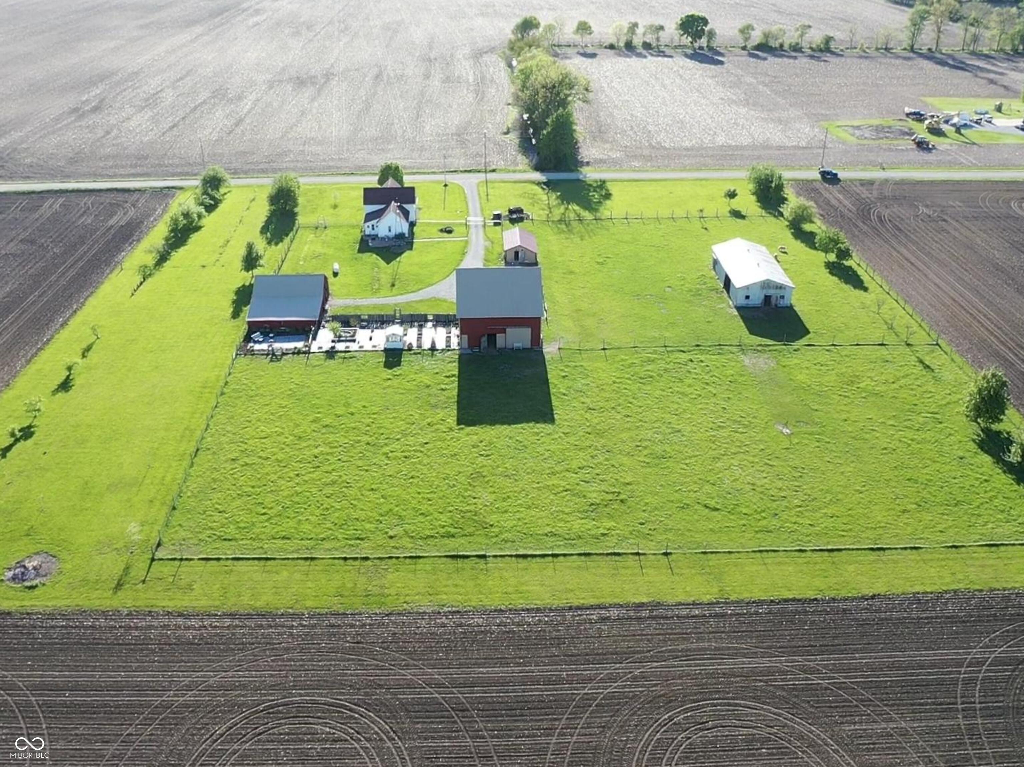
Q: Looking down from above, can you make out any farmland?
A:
Yes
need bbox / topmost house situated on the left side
[361,176,419,237]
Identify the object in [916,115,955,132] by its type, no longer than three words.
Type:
work vehicle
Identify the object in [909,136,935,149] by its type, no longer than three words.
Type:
vehicle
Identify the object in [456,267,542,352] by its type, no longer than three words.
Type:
barn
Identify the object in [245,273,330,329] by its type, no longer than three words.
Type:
shed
